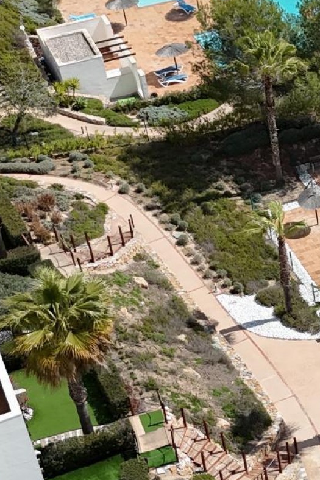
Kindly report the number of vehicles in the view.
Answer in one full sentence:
There are no vehicles in the image.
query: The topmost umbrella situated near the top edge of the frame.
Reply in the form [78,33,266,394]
[104,0,138,24]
